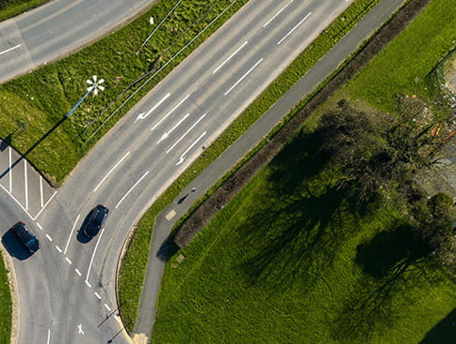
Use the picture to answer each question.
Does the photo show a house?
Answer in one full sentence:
No, this view has no house in it.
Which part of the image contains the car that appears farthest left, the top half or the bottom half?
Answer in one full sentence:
The car that appears farthest left is in the bottom half of the image.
